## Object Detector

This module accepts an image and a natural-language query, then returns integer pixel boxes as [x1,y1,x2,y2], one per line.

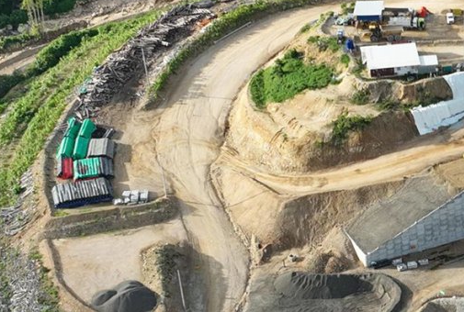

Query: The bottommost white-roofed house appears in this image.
[359,42,439,81]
